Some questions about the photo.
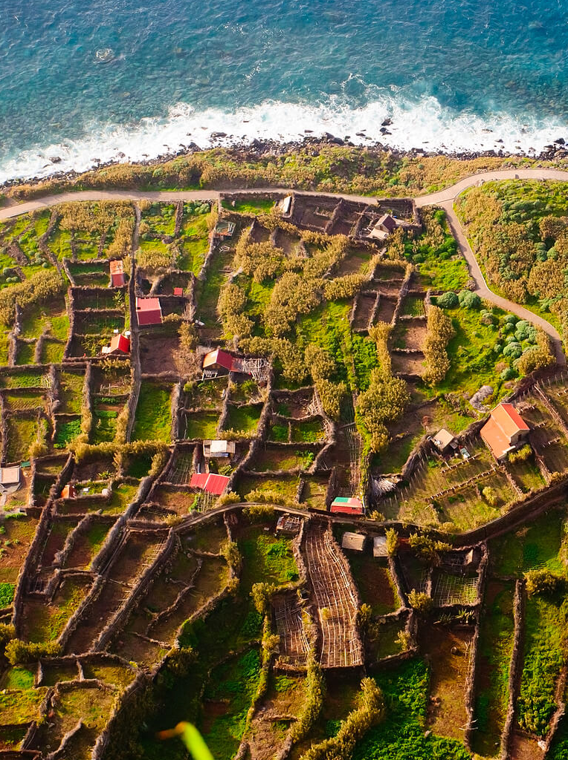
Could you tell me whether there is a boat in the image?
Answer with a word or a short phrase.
No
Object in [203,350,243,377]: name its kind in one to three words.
shed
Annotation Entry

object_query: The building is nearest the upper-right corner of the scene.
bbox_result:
[367,215,395,245]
